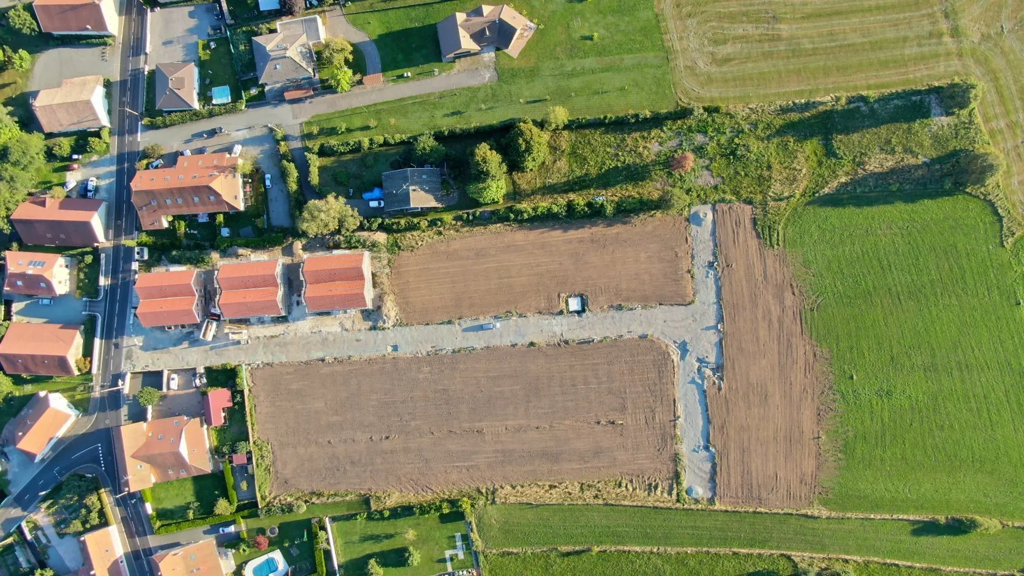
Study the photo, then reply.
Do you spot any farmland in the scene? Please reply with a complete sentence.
Yes, the picture does contain farmland.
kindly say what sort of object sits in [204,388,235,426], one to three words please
shed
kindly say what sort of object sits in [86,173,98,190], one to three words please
vehicle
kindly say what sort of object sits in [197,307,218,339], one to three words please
truck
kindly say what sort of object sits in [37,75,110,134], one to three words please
house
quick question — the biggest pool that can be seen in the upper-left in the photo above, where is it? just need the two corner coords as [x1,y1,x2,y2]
[212,86,232,105]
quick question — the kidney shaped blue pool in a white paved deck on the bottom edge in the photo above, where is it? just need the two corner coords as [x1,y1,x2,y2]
[245,549,290,576]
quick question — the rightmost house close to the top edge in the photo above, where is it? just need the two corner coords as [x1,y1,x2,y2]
[436,5,528,61]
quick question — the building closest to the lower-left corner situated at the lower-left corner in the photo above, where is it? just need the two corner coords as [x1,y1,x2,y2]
[78,524,130,576]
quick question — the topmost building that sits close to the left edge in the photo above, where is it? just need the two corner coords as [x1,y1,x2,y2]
[33,0,117,36]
